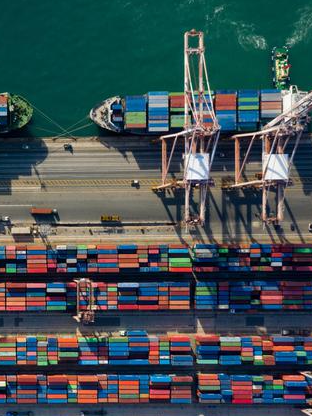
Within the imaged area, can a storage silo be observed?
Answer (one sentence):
No, the picture doesn't show any storage silo.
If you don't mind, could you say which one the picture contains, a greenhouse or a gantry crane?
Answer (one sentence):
There is a gantry crane in the scene.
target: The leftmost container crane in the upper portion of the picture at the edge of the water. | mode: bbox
[146,30,223,228]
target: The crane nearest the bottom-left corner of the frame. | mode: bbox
[67,273,93,323]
